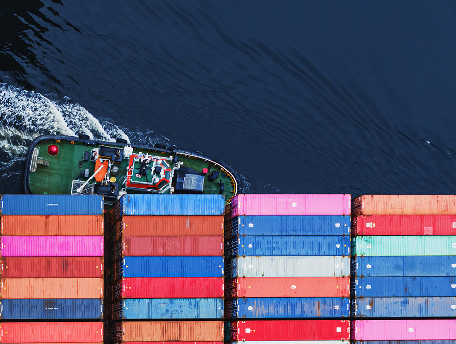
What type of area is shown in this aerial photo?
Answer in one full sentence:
The area seen from above is a port.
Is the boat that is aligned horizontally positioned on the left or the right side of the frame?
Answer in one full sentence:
You can find the boat that is aligned horizontally on the left side of the picture.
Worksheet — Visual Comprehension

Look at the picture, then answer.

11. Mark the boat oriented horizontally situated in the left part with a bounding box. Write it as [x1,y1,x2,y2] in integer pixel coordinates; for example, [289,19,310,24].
[21,132,242,205]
